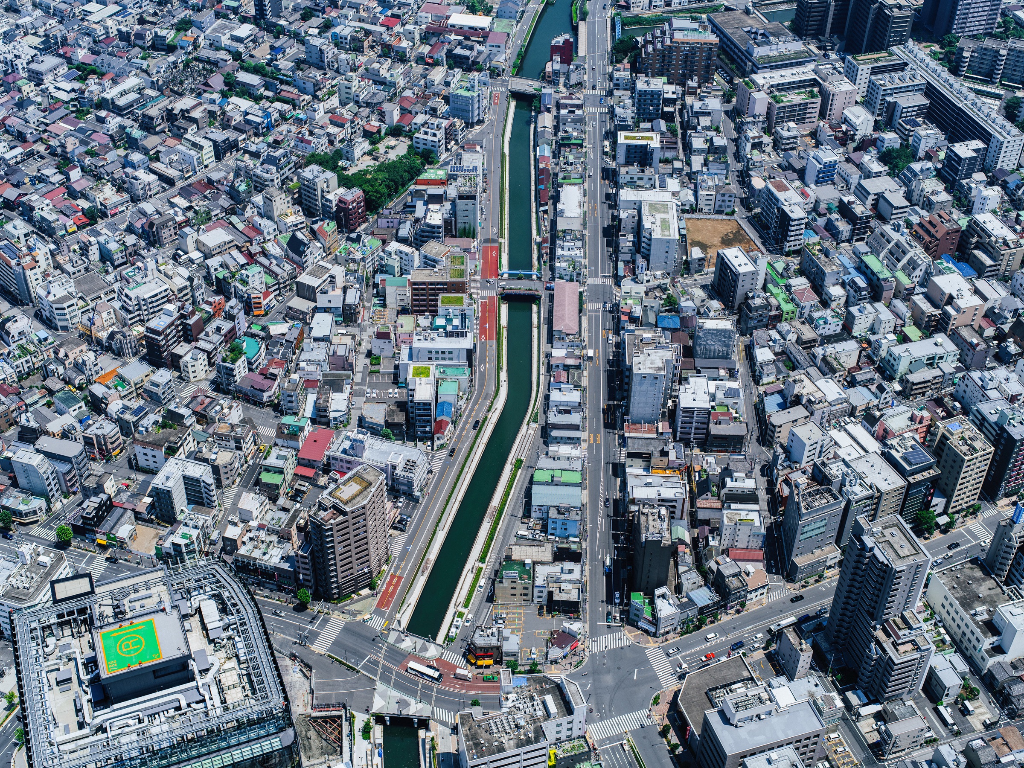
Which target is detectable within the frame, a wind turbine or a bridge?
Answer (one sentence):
It is a bridge that can be seen here.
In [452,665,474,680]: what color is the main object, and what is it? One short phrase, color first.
white vehicle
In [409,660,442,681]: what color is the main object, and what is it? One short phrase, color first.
white bus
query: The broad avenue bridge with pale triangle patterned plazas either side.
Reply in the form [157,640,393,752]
[372,624,461,726]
